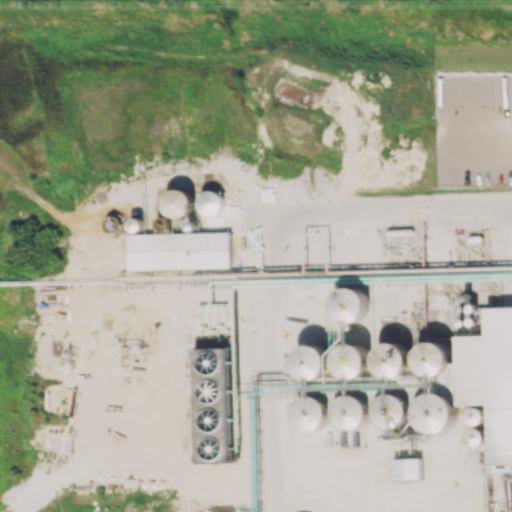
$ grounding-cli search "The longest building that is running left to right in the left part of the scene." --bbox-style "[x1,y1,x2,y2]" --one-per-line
[126,234,232,272]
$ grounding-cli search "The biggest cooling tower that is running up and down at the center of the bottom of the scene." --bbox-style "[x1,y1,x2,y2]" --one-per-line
[190,349,235,464]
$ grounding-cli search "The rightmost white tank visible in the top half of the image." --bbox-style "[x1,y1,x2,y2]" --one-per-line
[196,190,227,218]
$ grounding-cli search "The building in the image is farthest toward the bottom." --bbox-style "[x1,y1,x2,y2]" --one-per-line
[390,458,423,482]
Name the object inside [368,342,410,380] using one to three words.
storage tank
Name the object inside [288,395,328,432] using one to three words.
storage tank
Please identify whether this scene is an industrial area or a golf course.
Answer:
industrial area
